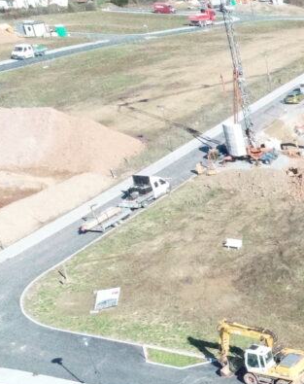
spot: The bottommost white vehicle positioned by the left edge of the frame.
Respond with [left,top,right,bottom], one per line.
[14,44,54,59]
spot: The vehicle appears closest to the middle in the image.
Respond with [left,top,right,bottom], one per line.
[115,166,171,203]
